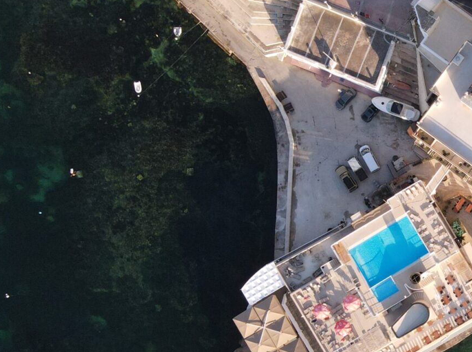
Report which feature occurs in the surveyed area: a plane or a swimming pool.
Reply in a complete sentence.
I can see a swimming pool in this picture.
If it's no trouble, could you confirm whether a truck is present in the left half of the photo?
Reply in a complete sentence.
No, I can find no truck in the left half of the photo.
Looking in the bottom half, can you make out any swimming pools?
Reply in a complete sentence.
Yes, a swimming pool can be seen in the bottom half.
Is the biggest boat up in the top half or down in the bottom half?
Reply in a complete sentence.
The biggest boat sits in the top half of the picture.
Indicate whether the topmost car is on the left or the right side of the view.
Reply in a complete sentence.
You can find the topmost car on the right side of the picture.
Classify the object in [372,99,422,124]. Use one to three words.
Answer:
boat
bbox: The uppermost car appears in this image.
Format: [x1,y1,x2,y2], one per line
[334,87,359,111]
